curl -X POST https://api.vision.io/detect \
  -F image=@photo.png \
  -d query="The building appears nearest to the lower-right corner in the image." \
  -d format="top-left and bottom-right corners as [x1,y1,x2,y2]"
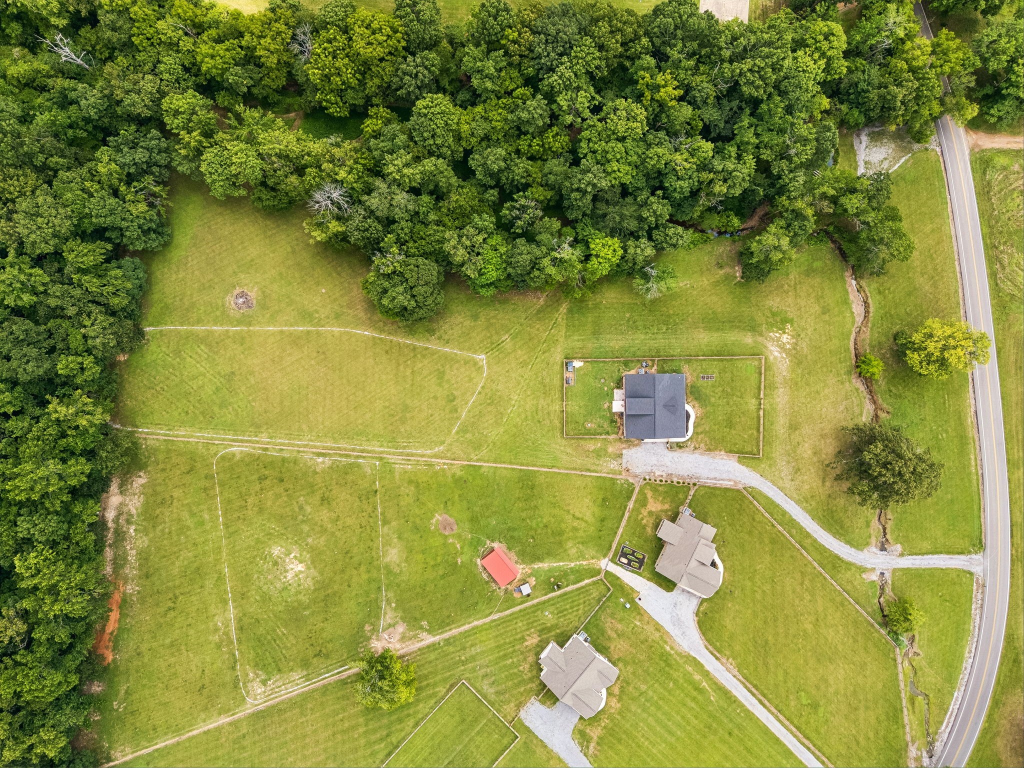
[654,513,721,598]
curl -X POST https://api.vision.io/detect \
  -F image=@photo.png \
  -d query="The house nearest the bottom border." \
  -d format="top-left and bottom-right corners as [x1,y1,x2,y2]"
[538,633,620,720]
